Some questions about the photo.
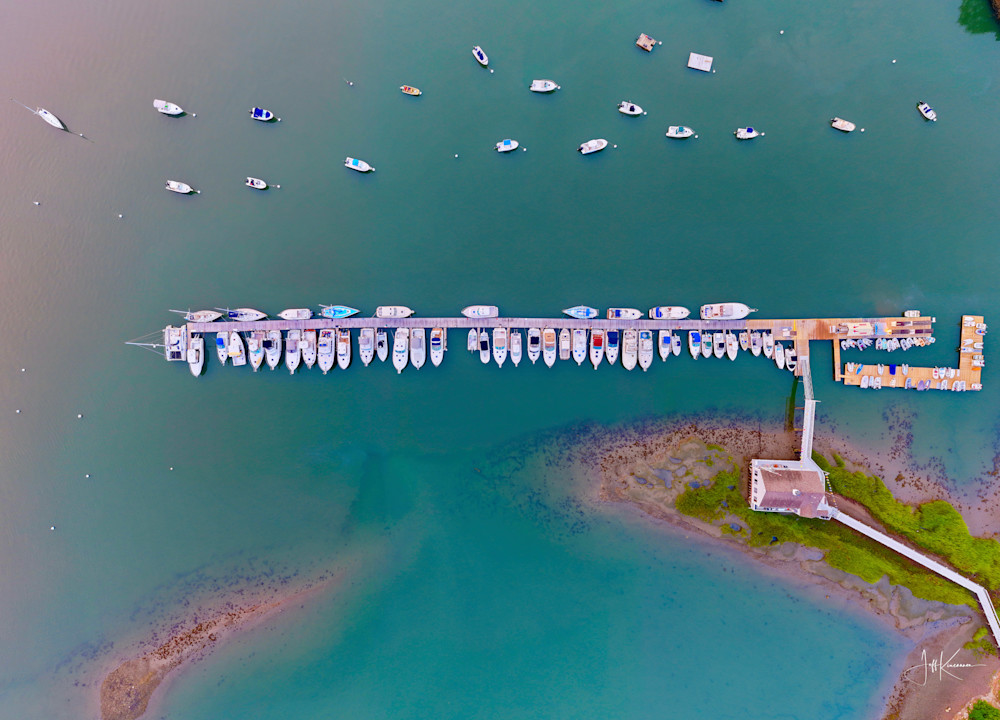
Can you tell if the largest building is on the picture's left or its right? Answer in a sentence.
The largest building is on the right side of the image.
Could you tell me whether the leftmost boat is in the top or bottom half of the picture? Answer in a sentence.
It is in the top half that the leftmost boat appears.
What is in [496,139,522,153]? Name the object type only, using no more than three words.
boat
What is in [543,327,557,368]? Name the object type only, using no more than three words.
boat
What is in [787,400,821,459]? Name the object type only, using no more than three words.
pier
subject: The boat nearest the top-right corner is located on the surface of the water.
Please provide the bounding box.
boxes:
[915,103,936,119]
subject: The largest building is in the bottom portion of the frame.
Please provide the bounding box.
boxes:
[748,458,837,523]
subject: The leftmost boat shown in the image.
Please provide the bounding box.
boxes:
[10,98,78,134]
